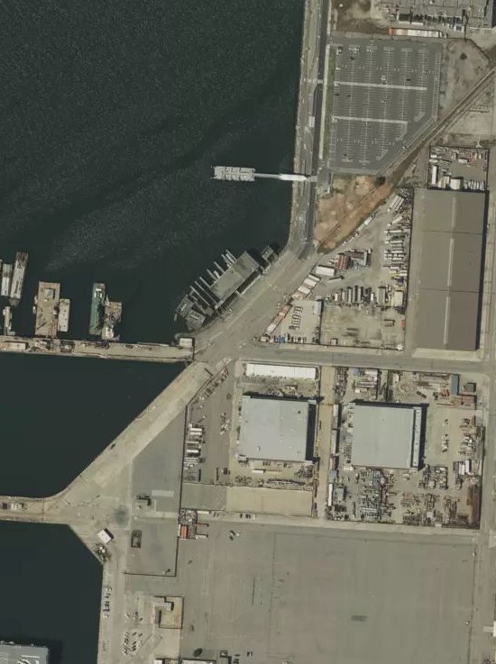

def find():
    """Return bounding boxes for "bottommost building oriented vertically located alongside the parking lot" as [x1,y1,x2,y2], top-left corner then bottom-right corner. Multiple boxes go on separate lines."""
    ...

[416,191,486,350]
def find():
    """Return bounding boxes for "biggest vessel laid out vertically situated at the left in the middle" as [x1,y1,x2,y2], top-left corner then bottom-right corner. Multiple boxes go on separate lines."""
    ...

[34,281,60,337]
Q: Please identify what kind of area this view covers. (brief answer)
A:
port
